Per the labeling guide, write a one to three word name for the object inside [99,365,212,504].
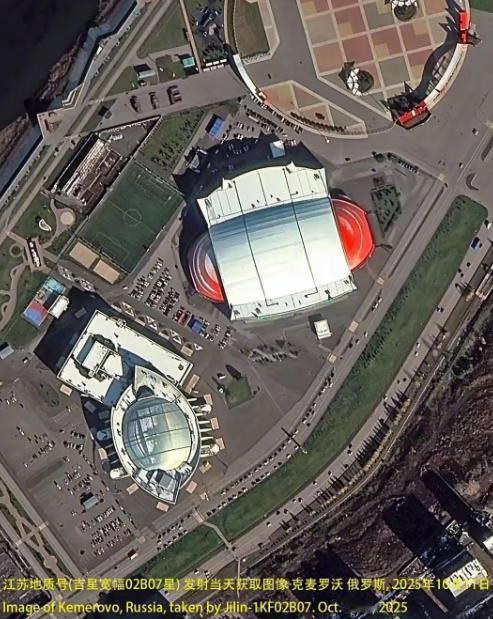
building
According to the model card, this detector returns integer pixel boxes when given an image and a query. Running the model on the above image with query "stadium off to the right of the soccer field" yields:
[188,161,374,320]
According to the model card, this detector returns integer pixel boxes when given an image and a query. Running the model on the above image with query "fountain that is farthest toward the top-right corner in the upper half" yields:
[393,0,416,22]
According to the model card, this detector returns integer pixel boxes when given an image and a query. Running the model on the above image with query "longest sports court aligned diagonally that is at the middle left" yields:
[23,276,65,326]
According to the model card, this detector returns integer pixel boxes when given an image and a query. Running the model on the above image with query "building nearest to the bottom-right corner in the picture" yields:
[446,560,486,598]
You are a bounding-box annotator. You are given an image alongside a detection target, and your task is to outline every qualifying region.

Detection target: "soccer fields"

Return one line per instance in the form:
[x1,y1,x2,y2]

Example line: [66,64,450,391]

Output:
[79,159,185,274]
